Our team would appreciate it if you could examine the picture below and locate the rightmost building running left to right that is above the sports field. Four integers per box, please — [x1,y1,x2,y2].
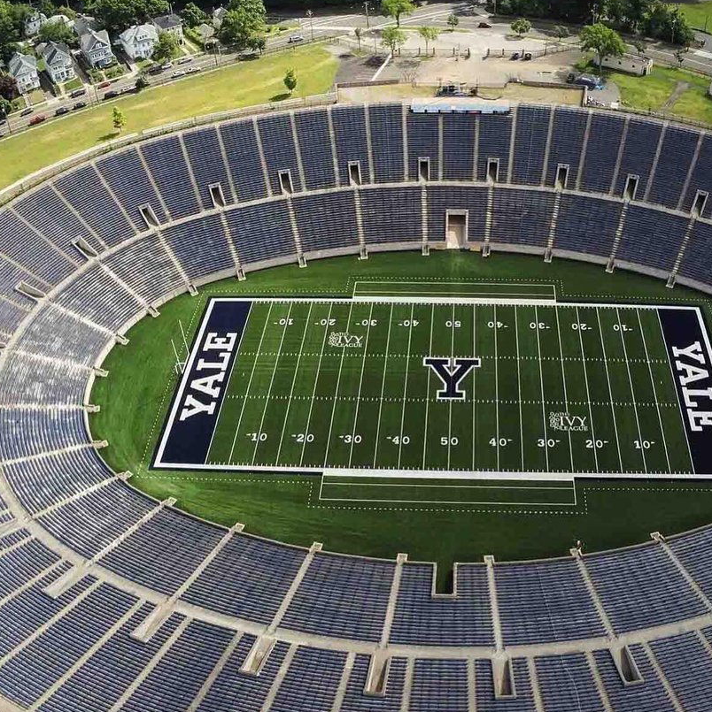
[596,50,650,76]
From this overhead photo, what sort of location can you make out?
sports ground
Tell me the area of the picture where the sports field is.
center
